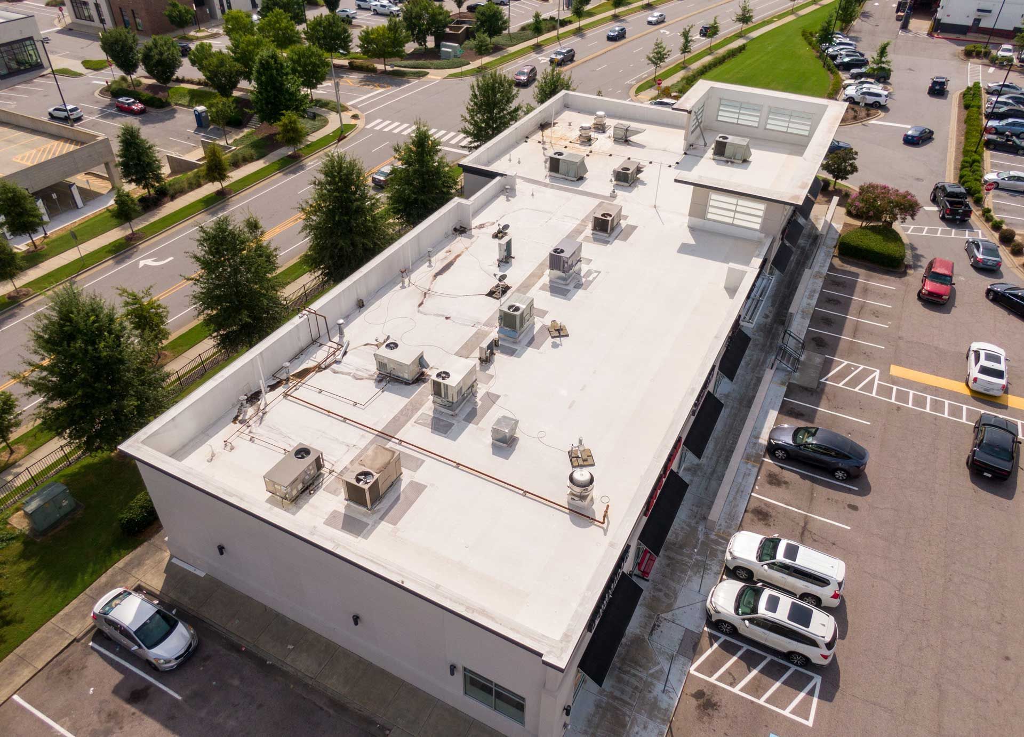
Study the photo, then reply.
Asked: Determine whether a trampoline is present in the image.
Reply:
No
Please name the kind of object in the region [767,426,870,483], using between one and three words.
car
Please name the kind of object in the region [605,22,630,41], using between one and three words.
car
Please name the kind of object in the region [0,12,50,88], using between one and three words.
building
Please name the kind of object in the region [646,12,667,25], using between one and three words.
vehicle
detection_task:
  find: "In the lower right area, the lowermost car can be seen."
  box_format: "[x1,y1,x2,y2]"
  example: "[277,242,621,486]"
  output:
[705,586,840,673]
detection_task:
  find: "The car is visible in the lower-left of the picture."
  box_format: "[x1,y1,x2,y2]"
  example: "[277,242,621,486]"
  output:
[83,582,200,673]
